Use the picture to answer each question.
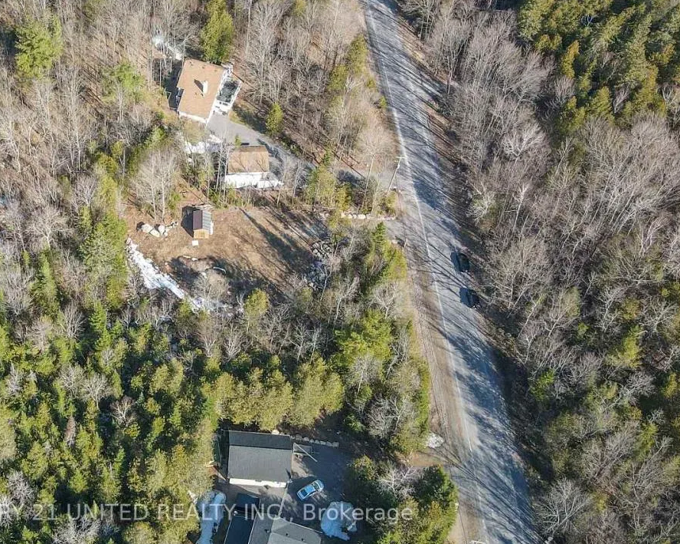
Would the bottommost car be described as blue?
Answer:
Yes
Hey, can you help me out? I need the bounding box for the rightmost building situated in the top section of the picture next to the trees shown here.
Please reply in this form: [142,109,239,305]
[226,147,268,180]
